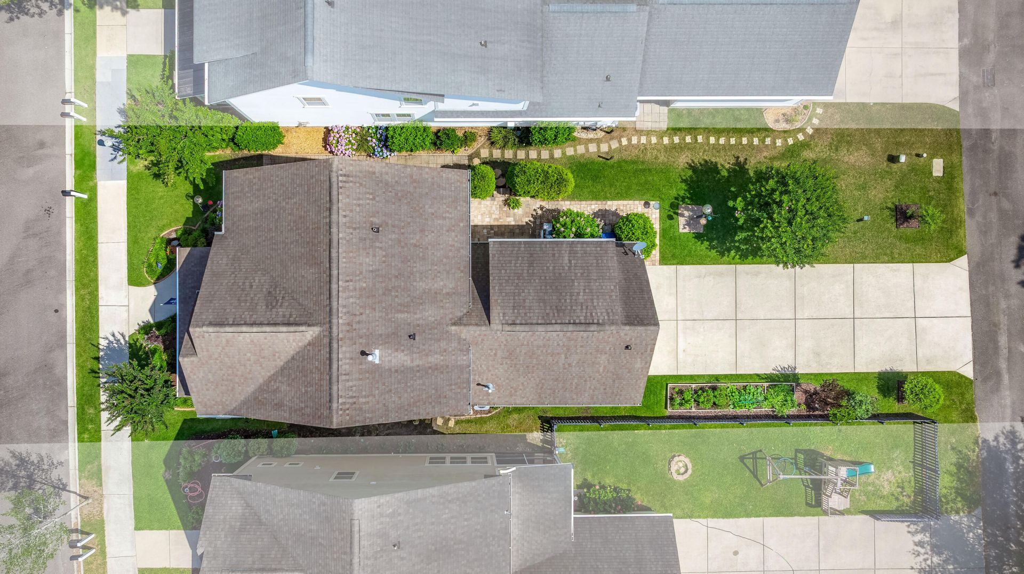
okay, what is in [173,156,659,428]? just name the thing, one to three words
house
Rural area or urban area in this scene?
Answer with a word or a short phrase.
urban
